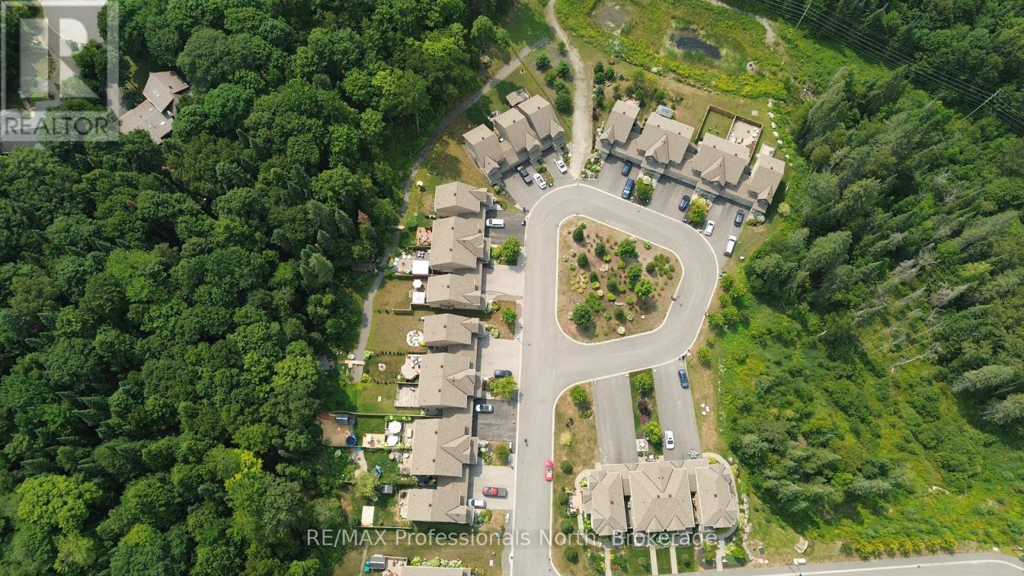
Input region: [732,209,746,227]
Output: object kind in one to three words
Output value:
car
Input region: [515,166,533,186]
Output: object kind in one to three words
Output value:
vehicle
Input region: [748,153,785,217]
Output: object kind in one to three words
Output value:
house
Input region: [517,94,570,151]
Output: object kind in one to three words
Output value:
house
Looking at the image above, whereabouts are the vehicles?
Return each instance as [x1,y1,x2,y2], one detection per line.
[493,369,513,378]
[544,461,554,481]
[732,209,746,227]
[723,236,737,256]
[486,219,506,228]
[704,220,715,237]
[664,429,674,450]
[553,156,568,173]
[482,486,507,497]
[621,179,635,198]
[475,403,494,413]
[515,166,533,186]
[532,173,547,190]
[678,369,690,389]
[469,498,486,508]
[678,195,689,211]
